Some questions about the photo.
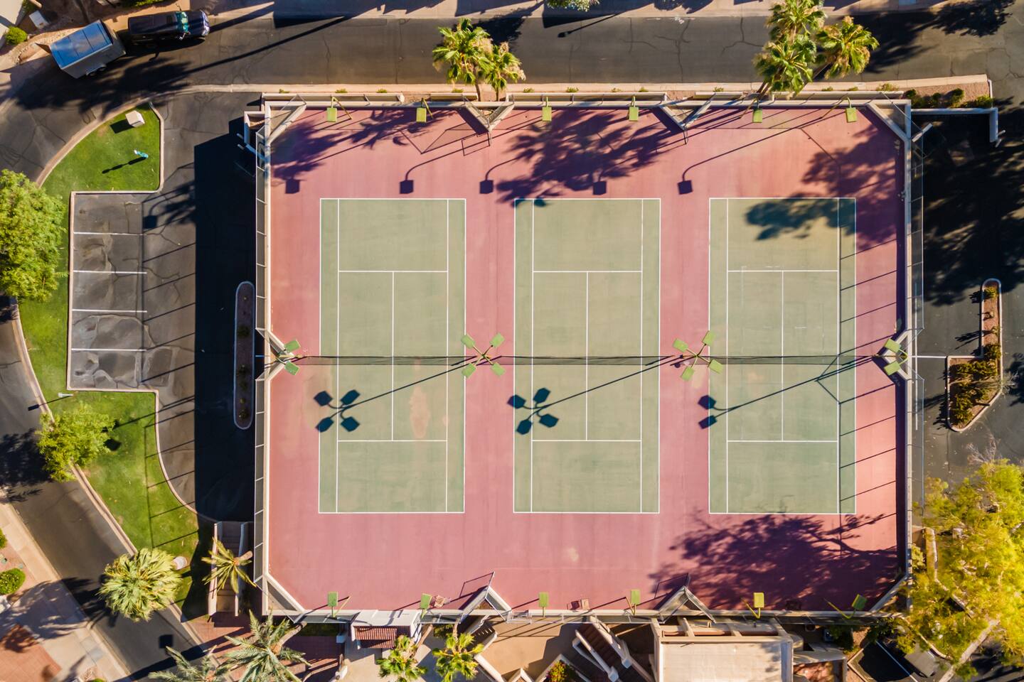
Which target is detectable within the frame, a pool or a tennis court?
tennis court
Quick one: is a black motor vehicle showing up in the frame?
Yes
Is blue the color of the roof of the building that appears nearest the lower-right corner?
No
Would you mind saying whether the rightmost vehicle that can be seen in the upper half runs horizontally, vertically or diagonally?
horizontally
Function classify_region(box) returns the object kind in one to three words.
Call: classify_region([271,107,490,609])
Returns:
tennis court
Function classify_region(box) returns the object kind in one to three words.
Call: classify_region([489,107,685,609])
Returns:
tennis court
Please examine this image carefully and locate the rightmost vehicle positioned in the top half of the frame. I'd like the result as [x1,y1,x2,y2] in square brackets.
[131,10,211,47]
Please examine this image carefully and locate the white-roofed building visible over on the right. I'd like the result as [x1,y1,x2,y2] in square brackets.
[648,615,792,682]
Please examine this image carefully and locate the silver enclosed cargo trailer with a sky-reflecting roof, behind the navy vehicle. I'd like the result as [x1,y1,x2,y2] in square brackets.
[41,19,129,76]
